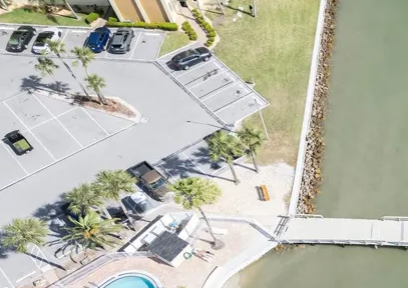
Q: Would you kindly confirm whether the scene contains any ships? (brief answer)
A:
No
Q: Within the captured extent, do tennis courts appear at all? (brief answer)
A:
No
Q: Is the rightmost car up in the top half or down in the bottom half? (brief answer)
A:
top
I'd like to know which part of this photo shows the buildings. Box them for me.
[0,0,233,26]
[121,209,198,268]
